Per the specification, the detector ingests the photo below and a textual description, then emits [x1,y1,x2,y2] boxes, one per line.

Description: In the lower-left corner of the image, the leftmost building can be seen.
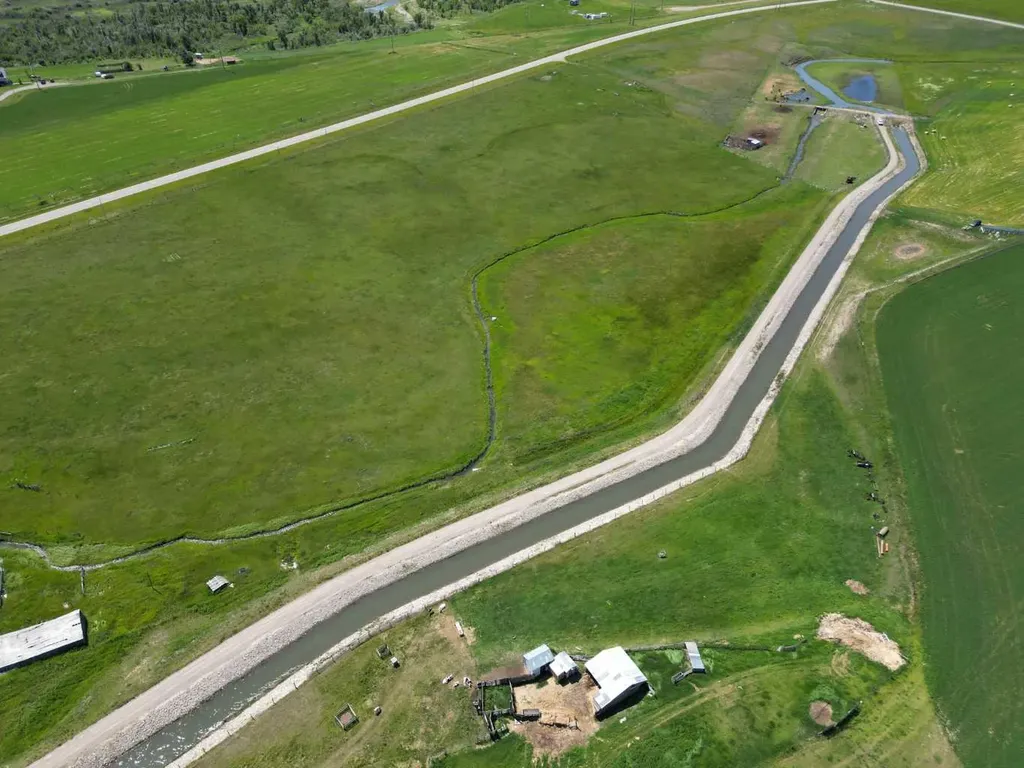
[0,609,87,672]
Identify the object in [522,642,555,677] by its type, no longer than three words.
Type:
shed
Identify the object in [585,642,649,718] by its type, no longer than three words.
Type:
barn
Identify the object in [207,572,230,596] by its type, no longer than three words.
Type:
shed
